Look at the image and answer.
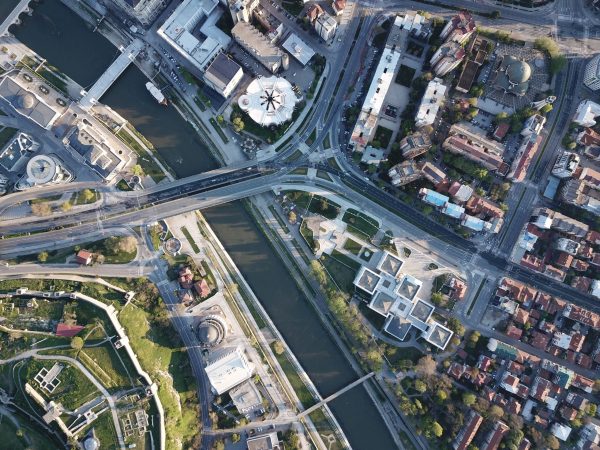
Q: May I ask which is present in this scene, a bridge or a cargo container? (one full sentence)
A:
The image shows a bridge.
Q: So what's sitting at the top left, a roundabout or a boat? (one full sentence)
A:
There is a boat at the top left.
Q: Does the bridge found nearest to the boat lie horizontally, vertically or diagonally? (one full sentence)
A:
I'd say the bridge found nearest to the boat is aligned diagonally in the picture.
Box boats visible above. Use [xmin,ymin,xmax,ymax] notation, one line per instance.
[144,80,168,106]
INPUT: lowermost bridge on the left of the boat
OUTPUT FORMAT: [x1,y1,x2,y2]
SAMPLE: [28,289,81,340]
[77,40,146,114]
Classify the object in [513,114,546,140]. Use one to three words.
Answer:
building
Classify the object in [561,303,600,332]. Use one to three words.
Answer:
house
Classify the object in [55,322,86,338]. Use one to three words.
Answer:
shed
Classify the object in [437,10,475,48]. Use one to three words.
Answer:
building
